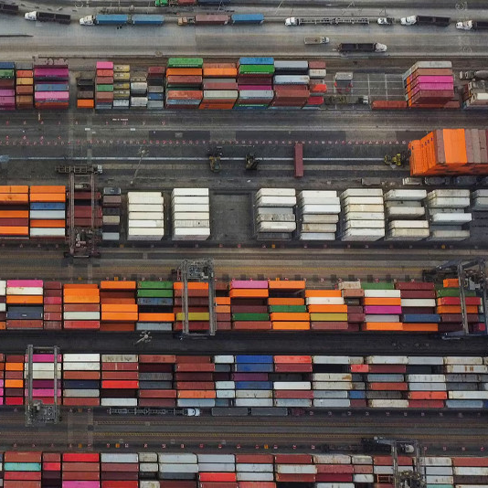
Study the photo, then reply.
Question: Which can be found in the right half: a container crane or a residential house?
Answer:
container crane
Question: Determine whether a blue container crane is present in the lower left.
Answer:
No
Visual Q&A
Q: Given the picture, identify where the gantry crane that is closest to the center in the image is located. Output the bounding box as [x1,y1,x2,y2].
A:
[171,257,217,340]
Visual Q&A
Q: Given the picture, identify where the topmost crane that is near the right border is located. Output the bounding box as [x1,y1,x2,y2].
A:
[425,258,488,339]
